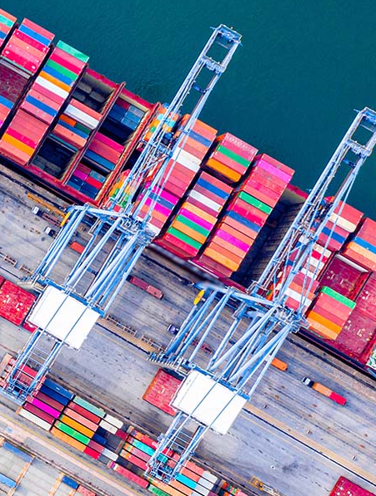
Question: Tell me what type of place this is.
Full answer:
The area seen from above is a port.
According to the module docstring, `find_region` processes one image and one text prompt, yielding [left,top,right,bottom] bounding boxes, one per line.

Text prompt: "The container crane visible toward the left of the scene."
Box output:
[0,21,245,416]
